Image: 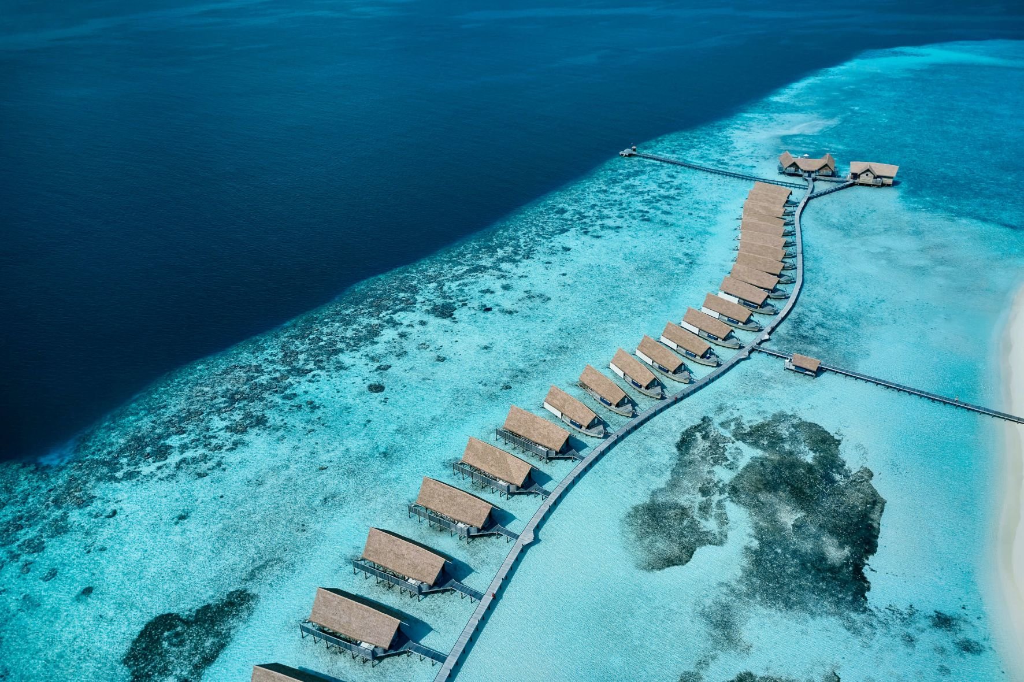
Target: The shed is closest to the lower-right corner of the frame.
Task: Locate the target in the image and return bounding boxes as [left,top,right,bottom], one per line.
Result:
[783,350,823,383]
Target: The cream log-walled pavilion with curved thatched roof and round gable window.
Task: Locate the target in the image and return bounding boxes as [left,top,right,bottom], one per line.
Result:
[844,161,899,189]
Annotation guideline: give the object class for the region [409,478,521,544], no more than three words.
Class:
house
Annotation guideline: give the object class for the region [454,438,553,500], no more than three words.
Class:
house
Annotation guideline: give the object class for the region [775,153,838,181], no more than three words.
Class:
building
